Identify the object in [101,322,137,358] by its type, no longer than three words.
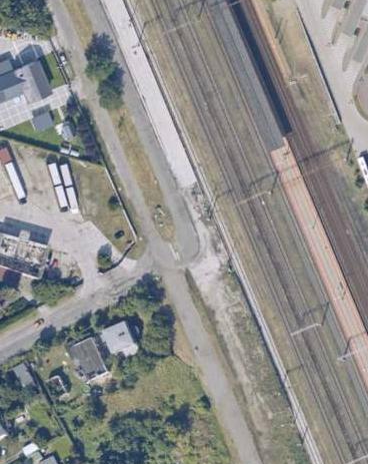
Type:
house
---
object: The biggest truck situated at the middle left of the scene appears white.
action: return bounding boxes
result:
[5,161,29,206]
